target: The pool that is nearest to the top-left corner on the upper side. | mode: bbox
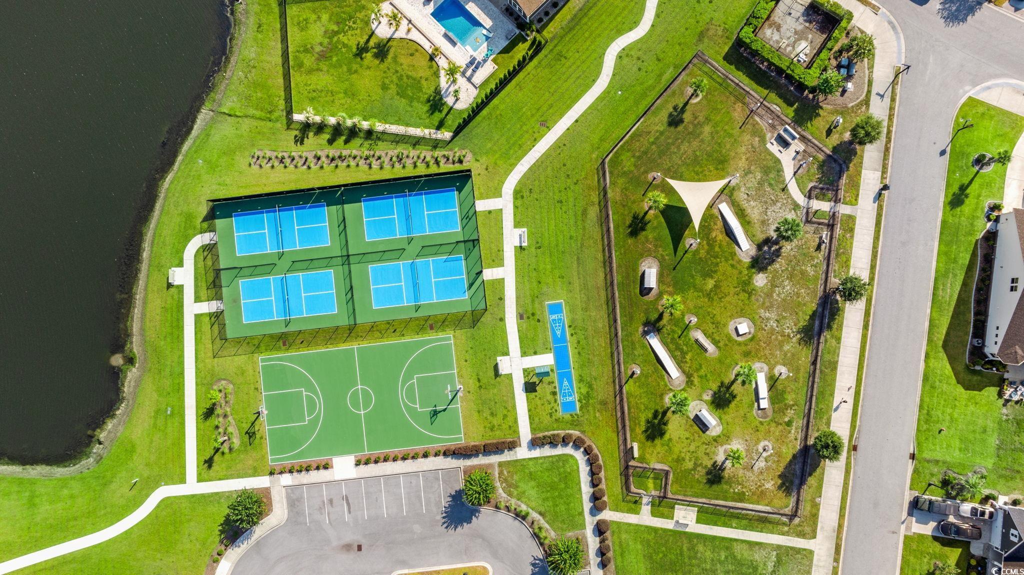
[428,0,494,54]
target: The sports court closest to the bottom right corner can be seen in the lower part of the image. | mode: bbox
[546,300,578,415]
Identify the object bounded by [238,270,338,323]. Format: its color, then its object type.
blue sports court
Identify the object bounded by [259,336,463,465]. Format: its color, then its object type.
green basketball court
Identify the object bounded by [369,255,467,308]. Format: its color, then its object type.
blue sports court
